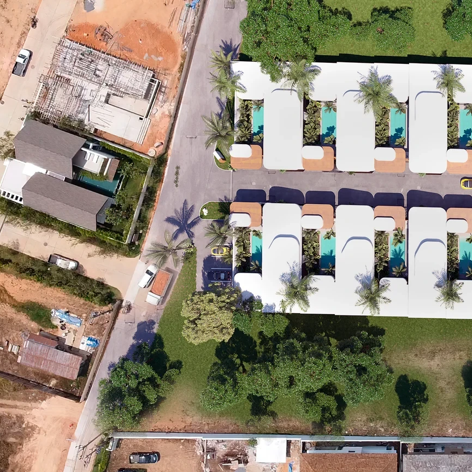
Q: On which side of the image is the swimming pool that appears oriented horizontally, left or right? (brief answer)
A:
left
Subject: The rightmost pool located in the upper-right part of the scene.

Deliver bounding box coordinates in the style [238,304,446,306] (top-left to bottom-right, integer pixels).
[458,106,472,149]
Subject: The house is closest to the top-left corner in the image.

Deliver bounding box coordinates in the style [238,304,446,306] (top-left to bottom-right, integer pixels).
[0,120,121,230]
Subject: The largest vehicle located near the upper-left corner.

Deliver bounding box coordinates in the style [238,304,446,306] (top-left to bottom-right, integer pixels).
[8,47,30,78]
